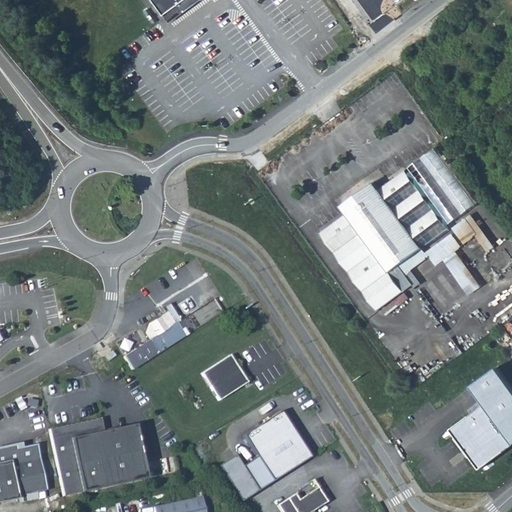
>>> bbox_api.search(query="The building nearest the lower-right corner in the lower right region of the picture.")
[442,366,512,470]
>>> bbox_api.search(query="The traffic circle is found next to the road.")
[6,118,175,266]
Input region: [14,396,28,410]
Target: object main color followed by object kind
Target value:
white vehicle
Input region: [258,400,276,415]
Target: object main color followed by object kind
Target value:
white vehicle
